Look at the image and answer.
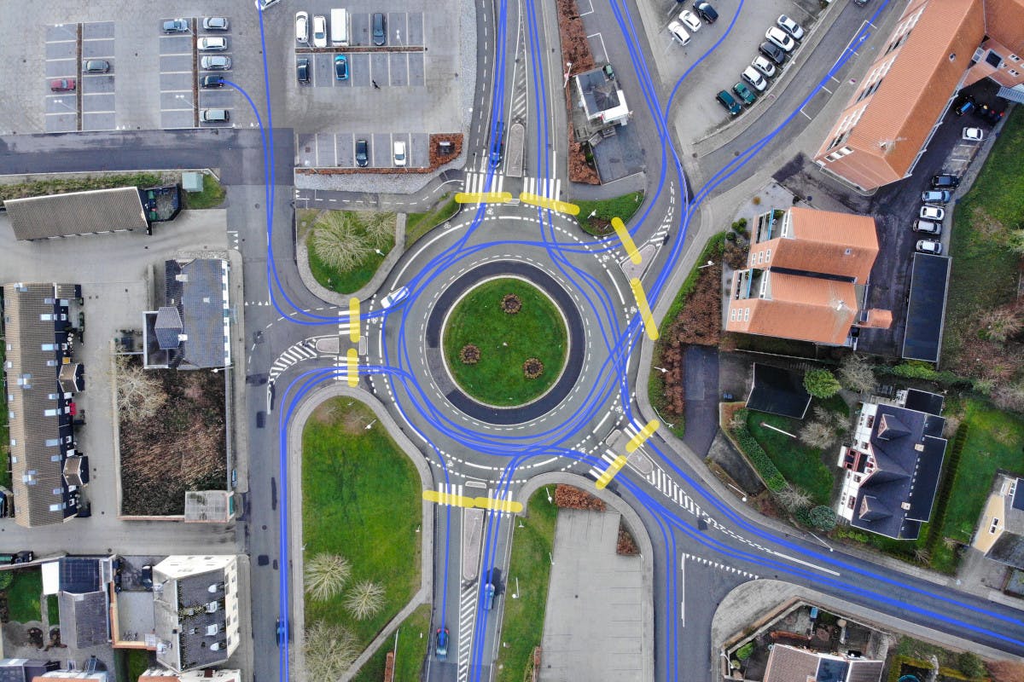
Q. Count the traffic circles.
2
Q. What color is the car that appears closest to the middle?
white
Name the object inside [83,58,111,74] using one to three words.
car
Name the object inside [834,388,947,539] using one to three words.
house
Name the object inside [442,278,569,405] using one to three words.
roundabout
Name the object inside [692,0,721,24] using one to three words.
car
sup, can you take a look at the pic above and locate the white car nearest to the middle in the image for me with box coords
[381,286,409,308]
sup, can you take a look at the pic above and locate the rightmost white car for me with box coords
[961,126,984,141]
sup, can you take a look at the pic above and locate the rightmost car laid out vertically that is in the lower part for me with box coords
[483,583,496,611]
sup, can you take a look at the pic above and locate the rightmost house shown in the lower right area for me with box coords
[967,475,1024,567]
